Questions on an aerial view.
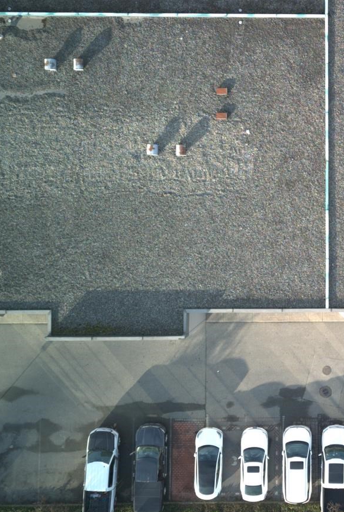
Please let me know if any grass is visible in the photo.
No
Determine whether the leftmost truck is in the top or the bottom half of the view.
bottom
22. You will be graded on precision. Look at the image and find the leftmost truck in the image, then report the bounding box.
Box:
[80,423,122,512]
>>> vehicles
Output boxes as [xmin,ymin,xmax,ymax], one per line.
[131,421,170,512]
[80,423,122,512]
[278,422,315,504]
[190,423,226,499]
[317,421,344,512]
[237,423,273,500]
